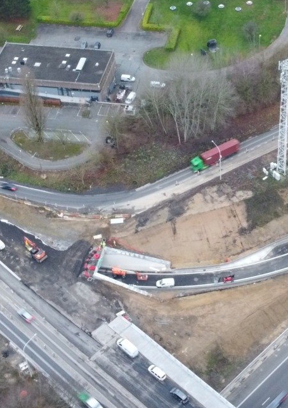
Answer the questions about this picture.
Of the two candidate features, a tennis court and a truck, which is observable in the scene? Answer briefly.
truck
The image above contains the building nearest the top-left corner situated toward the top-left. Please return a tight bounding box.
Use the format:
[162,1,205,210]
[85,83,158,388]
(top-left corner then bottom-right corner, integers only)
[0,44,114,100]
